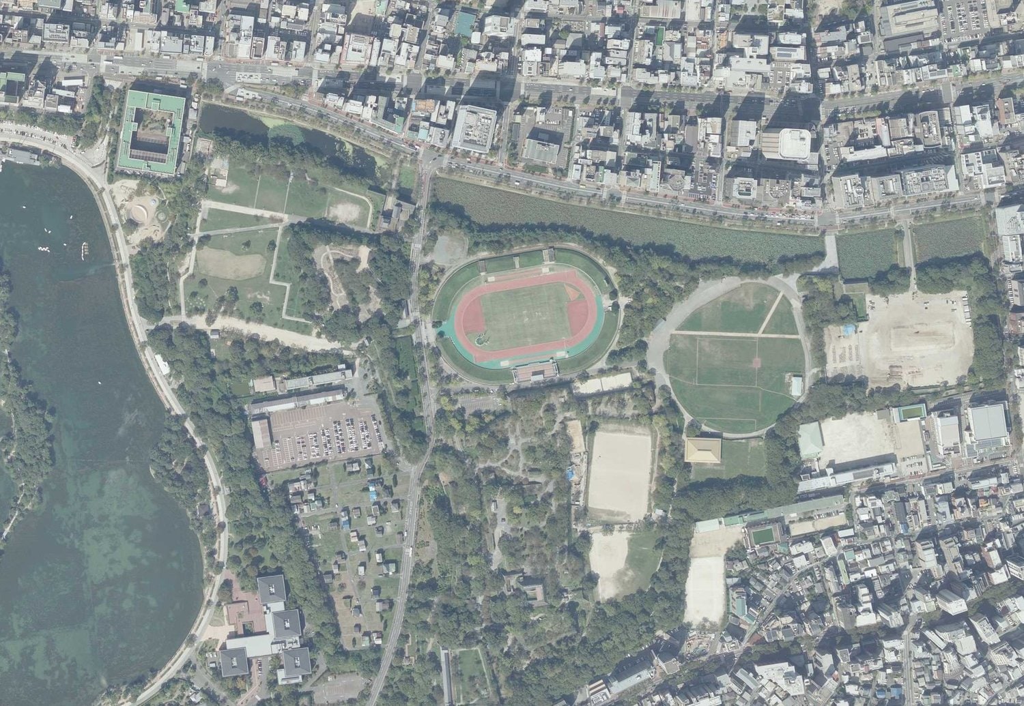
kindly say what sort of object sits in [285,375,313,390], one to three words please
building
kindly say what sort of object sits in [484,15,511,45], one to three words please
building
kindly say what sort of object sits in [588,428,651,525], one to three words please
sports field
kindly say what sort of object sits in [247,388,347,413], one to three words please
shed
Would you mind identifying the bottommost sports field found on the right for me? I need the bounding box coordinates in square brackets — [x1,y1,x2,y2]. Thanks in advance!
[590,525,663,600]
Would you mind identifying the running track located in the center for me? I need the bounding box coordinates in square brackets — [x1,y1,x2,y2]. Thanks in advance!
[430,248,622,384]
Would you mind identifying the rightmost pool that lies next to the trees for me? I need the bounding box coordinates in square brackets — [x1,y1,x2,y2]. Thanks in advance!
[892,403,926,423]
